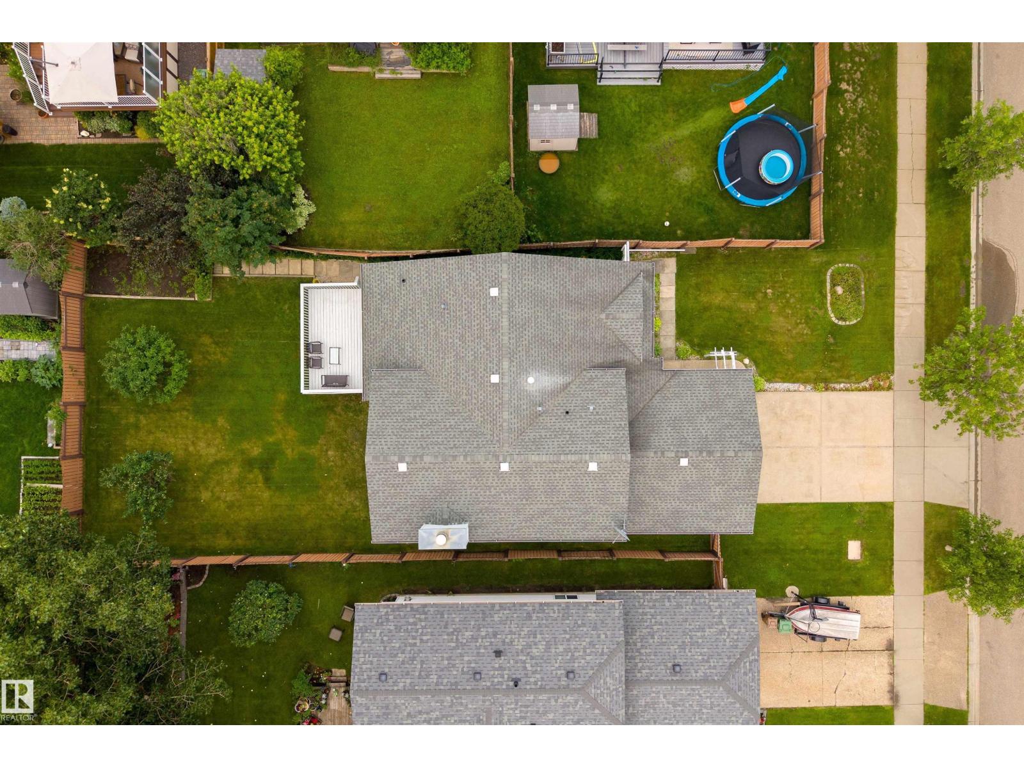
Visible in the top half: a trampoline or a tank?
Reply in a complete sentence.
The one visible in the top half is a trampoline.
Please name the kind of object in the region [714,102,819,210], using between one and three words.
trampoline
